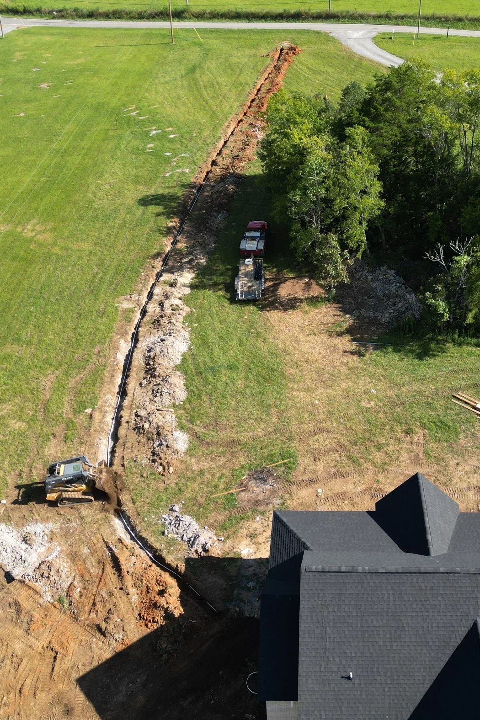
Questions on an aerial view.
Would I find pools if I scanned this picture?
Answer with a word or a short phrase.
No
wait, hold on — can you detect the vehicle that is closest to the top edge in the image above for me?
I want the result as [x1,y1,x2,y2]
[240,221,270,256]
